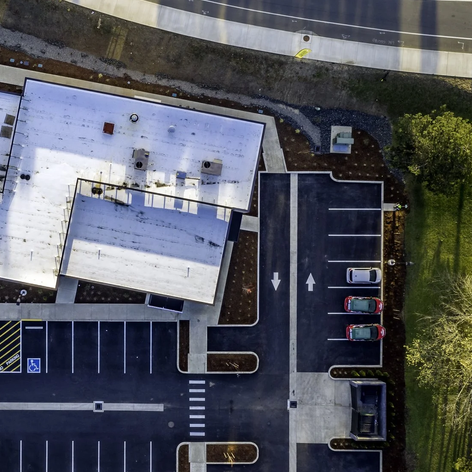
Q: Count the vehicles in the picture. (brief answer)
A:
3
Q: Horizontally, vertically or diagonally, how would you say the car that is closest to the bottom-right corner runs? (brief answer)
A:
horizontally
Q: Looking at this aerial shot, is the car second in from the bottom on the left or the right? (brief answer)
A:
right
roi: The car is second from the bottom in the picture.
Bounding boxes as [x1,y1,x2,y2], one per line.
[343,296,381,316]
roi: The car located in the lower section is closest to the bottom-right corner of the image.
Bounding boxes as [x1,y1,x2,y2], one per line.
[344,323,382,343]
